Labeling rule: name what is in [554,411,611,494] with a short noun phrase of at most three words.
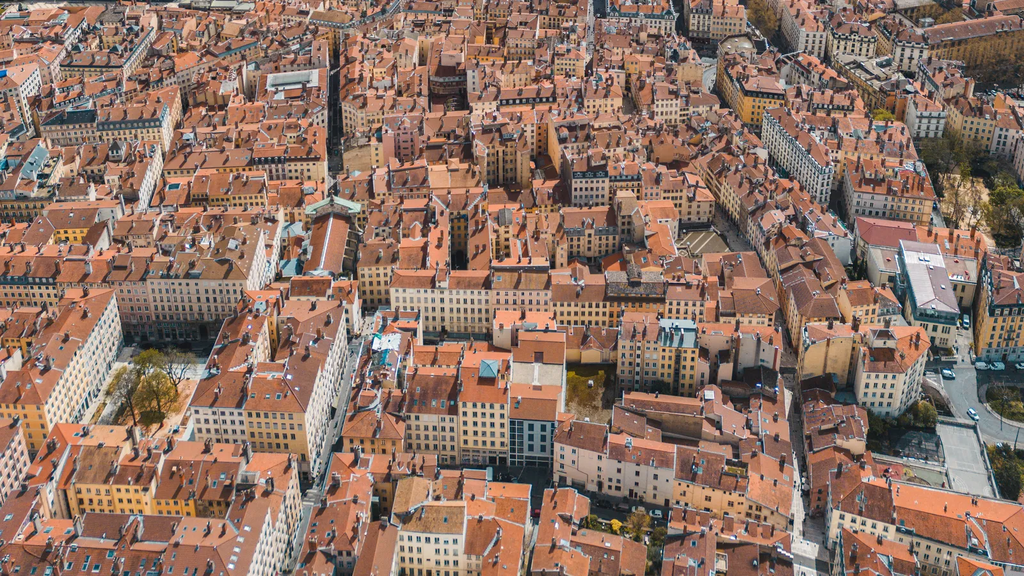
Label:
house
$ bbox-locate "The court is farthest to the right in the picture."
[938,419,996,492]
